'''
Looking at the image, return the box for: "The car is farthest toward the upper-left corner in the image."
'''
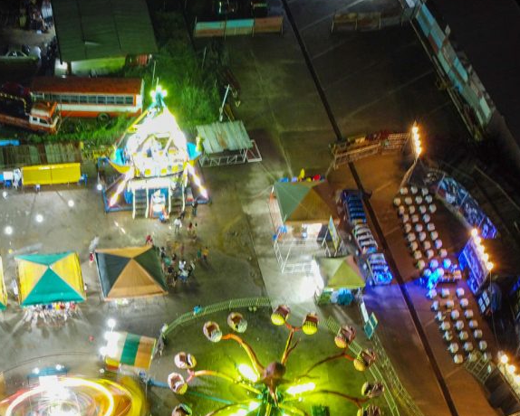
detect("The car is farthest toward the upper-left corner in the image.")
[0,43,38,63]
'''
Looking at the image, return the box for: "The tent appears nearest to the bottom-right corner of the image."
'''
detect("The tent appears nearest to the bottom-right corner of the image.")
[306,255,365,306]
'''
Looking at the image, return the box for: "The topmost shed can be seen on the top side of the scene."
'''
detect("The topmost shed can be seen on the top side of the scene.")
[54,0,157,79]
